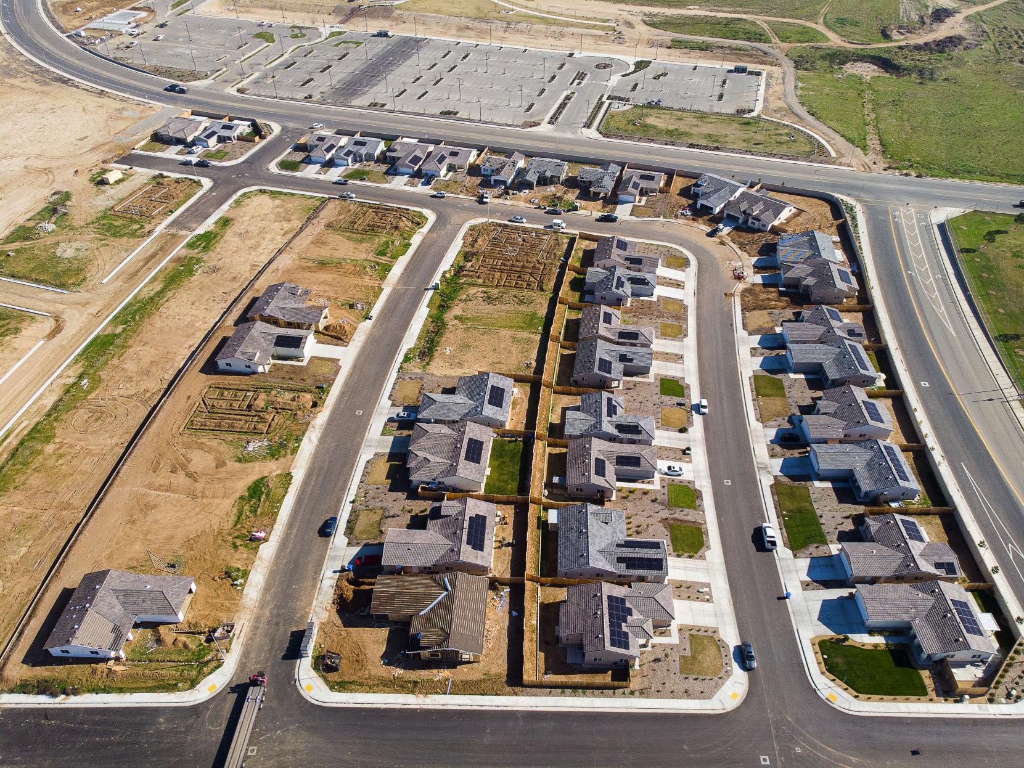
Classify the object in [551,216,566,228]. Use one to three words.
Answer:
vehicle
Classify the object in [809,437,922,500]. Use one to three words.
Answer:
house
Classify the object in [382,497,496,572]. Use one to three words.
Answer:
house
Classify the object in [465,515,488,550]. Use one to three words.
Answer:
solar panel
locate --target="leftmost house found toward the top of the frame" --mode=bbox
[155,118,203,143]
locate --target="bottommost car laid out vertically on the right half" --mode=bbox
[741,640,758,668]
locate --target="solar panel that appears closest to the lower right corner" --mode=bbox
[951,599,983,635]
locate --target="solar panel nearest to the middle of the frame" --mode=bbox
[488,386,507,407]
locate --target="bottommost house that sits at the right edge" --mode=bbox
[854,579,1001,662]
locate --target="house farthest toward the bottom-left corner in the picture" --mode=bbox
[43,568,195,658]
